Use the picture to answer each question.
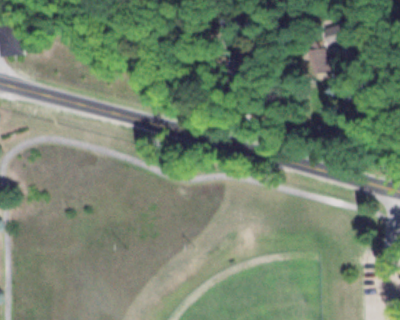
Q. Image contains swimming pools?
No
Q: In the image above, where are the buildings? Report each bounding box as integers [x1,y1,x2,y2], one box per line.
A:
[308,50,333,74]
[324,24,341,36]
[0,26,24,58]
